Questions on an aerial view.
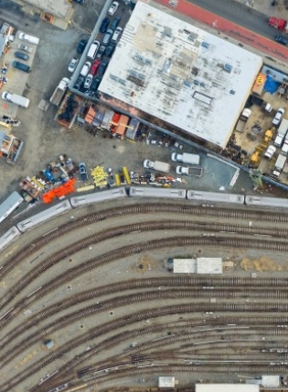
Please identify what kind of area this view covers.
rail yard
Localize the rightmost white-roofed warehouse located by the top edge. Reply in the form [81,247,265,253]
[97,0,265,155]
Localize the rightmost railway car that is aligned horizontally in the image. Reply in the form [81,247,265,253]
[245,195,288,209]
